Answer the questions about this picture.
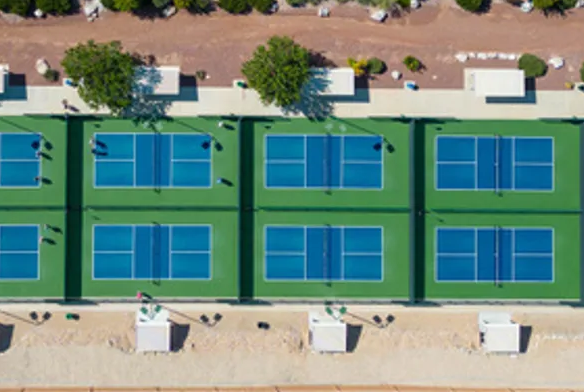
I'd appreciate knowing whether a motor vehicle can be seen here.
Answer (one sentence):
No, there's no motor vehicle here.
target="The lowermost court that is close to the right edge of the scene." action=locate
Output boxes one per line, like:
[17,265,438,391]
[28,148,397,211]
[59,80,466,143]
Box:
[414,211,581,300]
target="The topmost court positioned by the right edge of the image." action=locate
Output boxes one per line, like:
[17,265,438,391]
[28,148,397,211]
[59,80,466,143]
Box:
[414,118,581,211]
